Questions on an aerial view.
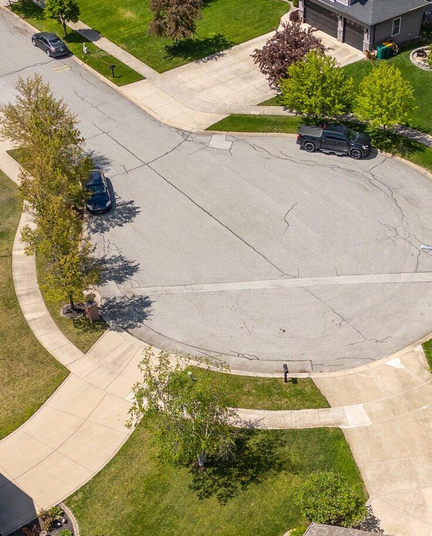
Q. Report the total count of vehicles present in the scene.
three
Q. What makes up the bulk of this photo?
paved ground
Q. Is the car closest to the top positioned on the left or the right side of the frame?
left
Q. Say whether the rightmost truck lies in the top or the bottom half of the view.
top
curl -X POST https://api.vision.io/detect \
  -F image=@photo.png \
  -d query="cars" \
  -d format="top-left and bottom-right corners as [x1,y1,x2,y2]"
[31,28,68,53]
[84,167,113,210]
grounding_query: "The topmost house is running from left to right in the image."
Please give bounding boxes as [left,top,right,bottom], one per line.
[304,0,432,54]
